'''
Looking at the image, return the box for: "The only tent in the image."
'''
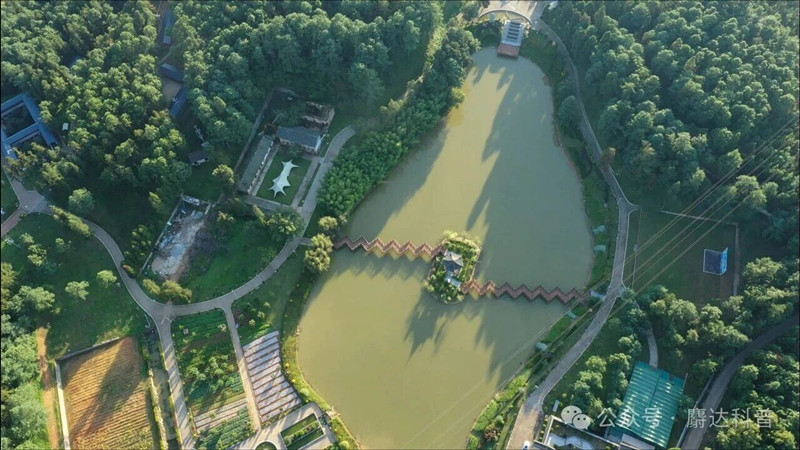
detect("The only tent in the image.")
[266,160,300,203]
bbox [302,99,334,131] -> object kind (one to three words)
house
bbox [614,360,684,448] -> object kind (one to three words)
shed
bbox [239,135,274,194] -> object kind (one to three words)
house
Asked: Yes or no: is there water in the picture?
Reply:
Yes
